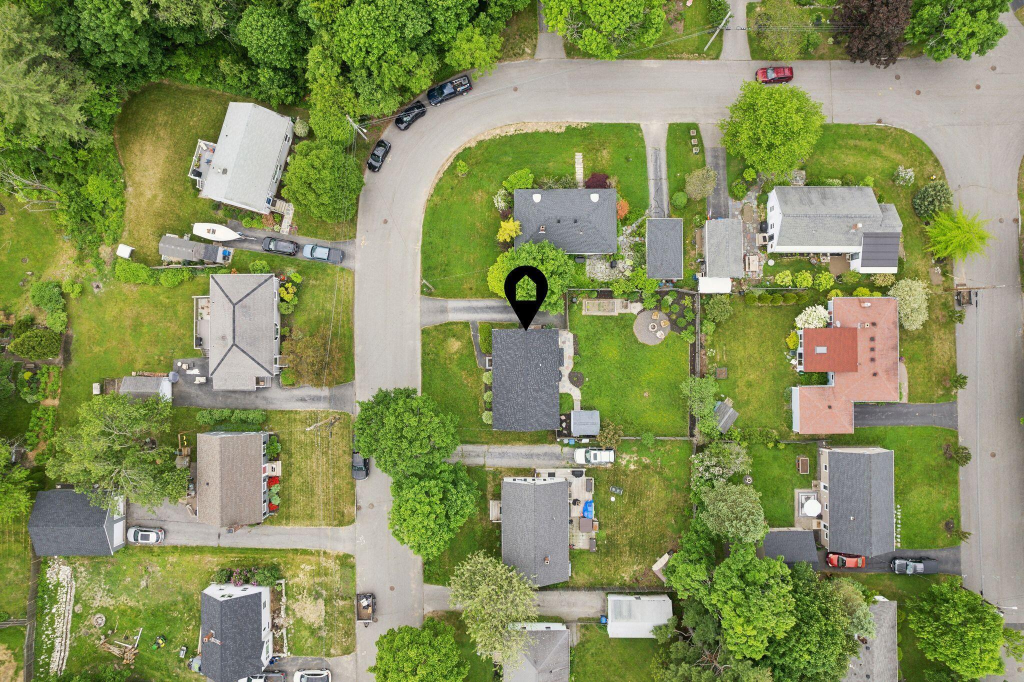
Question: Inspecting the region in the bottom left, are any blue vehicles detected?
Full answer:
No, I can find no blue vehicle in the bottom left.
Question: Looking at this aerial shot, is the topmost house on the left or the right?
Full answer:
The topmost house sits on the left side.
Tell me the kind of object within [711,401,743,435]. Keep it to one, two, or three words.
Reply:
shed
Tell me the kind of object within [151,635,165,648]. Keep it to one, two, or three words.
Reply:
vehicle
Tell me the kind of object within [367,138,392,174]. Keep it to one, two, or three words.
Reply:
car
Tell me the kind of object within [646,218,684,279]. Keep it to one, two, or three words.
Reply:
building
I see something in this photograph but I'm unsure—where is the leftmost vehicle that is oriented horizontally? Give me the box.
[126,526,166,545]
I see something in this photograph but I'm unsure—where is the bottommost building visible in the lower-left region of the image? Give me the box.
[200,583,277,681]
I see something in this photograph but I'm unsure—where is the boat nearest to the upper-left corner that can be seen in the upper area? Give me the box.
[191,222,245,241]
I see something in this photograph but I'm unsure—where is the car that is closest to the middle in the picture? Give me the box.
[574,447,615,466]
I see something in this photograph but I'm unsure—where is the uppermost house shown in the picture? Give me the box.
[201,100,295,216]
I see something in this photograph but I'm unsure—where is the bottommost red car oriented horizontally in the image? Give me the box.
[825,552,867,571]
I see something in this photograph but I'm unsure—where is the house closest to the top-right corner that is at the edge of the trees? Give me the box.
[753,186,911,274]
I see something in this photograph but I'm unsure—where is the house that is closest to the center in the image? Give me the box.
[484,328,565,433]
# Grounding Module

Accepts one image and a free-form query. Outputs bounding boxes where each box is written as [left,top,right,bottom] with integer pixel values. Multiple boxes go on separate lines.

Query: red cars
[755,64,795,84]
[825,552,867,571]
